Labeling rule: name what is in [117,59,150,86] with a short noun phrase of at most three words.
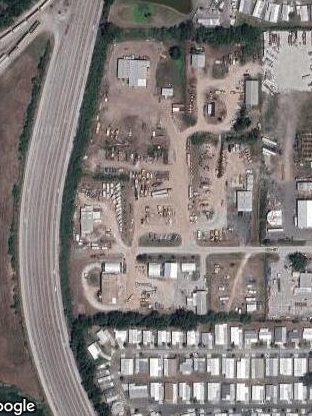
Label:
building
